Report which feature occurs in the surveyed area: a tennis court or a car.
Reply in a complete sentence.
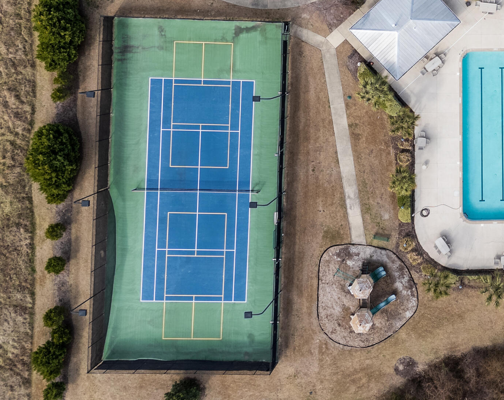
This aerial view contains a tennis court.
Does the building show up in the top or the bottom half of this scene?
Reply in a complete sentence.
You can find the building in the top half.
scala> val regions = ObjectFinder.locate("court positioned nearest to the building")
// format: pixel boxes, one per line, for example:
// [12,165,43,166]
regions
[103,15,292,362]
